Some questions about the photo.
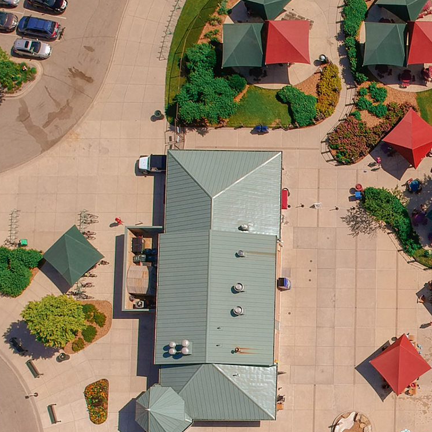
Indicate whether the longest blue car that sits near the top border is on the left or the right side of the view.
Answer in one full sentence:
The longest blue car that sits near the top border appears in the left half of the scene.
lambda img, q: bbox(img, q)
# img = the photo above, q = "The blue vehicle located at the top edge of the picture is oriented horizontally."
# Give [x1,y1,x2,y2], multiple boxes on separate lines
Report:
[16,16,62,42]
